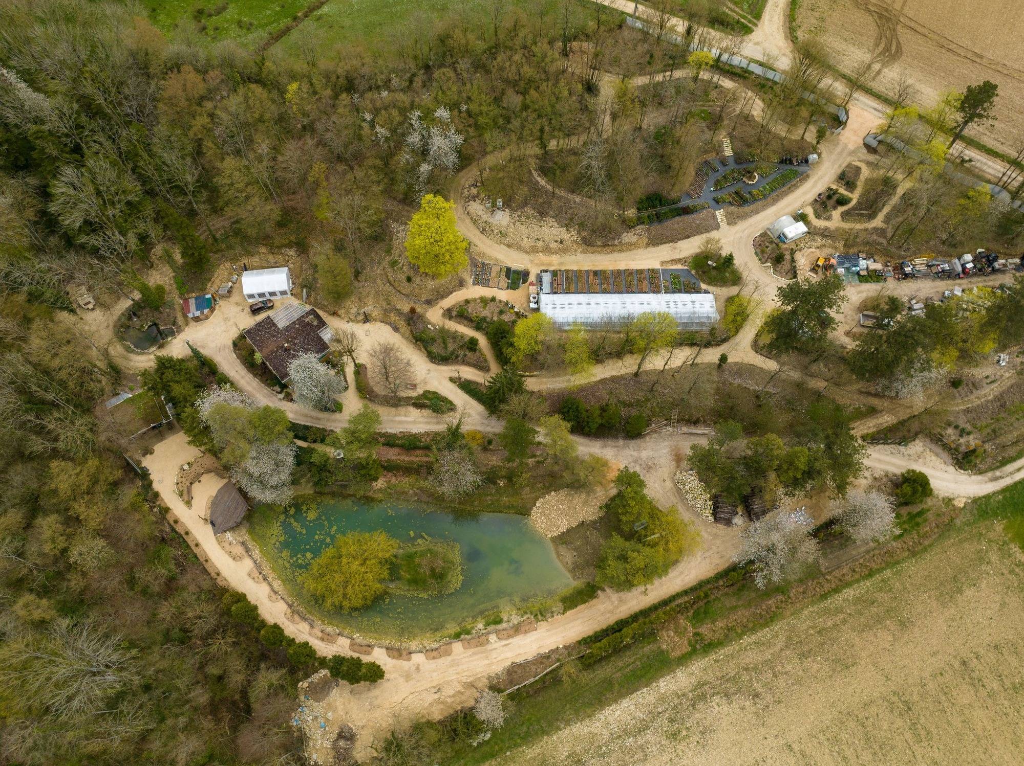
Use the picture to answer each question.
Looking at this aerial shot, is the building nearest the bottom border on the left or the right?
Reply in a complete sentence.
You can find the building nearest the bottom border on the left side of the picture.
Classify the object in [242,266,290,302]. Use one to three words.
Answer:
shed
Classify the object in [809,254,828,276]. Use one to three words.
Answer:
work vehicle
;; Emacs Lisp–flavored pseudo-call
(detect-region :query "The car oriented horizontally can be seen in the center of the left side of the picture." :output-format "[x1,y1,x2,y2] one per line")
[247,301,275,316]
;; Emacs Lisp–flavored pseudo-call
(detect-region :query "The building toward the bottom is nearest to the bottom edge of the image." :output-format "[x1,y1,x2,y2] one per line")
[209,481,252,539]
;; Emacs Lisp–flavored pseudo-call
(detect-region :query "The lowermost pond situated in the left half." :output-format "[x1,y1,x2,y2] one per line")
[248,495,571,645]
